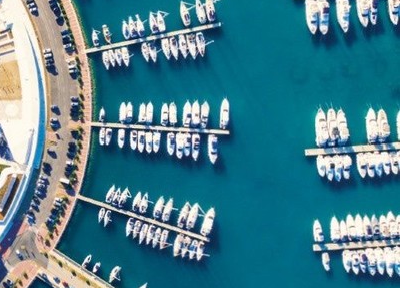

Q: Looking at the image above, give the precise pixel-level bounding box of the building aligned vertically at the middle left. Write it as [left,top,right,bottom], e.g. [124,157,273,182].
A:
[0,25,45,245]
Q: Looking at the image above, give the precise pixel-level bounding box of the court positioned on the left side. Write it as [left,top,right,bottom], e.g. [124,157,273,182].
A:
[0,60,22,101]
